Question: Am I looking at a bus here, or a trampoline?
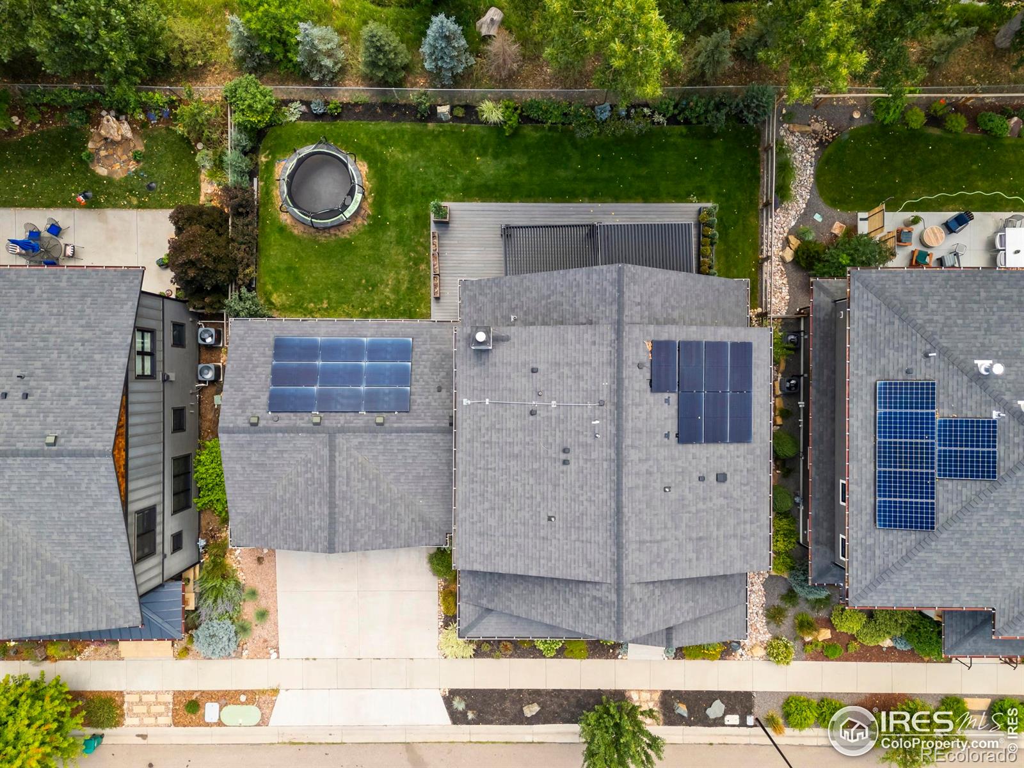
trampoline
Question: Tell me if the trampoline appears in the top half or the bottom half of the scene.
top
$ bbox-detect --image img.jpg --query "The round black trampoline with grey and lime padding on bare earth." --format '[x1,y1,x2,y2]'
[278,136,365,233]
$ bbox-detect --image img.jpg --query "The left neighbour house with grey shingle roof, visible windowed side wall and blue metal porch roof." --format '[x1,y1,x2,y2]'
[0,264,204,642]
